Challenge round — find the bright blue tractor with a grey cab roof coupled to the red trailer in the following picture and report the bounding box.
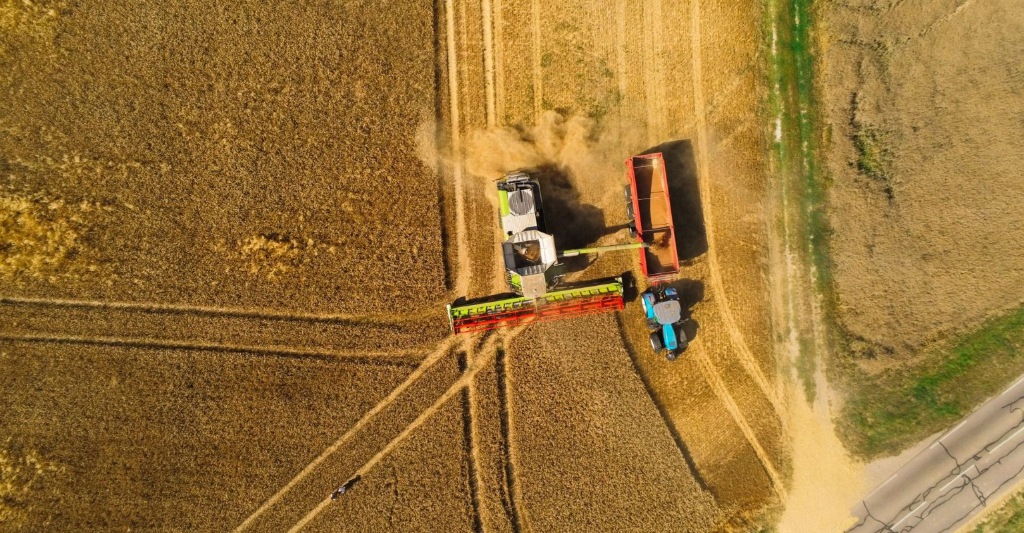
[638,282,689,359]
